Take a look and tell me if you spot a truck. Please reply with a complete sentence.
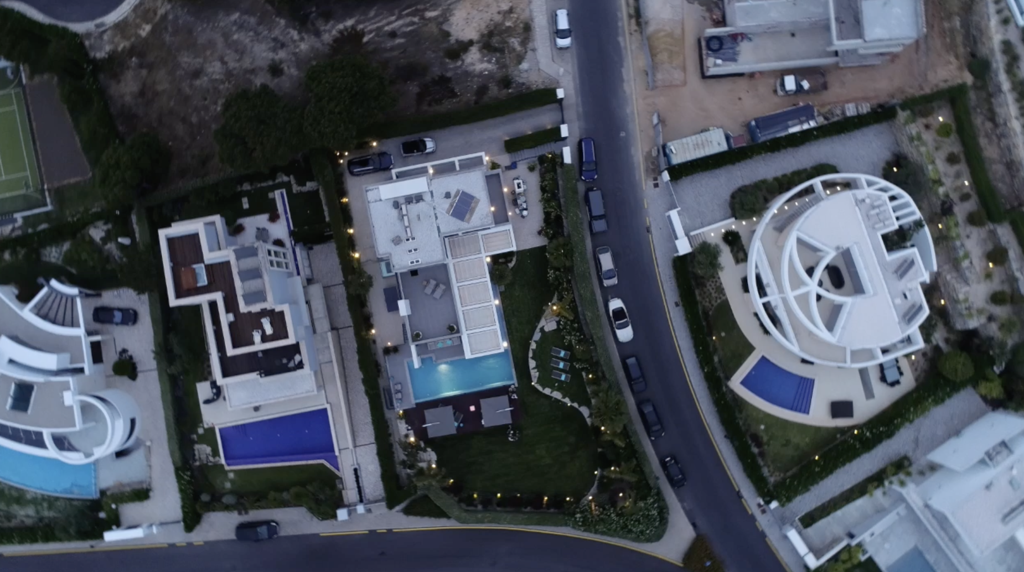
Yes, a truck is visible in the scene.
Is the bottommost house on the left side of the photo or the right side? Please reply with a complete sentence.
You can find the bottommost house on the right side of the picture.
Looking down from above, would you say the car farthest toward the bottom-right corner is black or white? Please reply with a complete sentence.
The car farthest toward the bottom-right corner is black.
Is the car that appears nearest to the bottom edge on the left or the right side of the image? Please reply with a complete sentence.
The car that appears nearest to the bottom edge sits on the left side.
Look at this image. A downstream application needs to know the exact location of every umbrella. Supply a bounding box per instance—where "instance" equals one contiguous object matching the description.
[422,406,457,438]
[480,395,518,427]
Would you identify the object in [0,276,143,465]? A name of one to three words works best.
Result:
house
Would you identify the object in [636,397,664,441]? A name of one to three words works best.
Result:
car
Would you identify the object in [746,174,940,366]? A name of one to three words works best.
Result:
house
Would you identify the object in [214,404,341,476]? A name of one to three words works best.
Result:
swimming pool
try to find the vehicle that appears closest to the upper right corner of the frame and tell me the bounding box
[779,71,828,95]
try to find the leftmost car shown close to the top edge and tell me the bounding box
[553,7,572,49]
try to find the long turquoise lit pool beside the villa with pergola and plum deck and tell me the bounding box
[403,276,520,407]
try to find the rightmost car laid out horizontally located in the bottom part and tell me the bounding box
[234,519,280,542]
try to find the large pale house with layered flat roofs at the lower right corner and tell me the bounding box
[888,407,1024,572]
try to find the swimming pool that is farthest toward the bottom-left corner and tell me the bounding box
[0,444,101,500]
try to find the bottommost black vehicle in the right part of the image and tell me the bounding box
[661,454,686,489]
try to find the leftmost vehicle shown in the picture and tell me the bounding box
[91,306,139,327]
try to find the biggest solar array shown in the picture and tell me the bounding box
[446,189,480,223]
